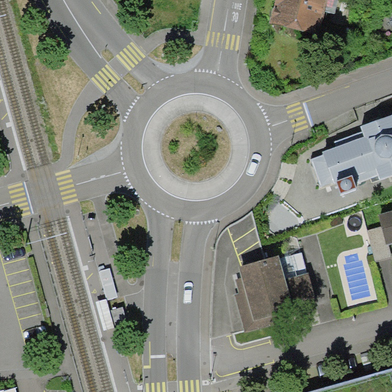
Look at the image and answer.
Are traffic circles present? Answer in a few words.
Yes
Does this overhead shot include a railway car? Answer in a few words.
No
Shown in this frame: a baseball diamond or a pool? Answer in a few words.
pool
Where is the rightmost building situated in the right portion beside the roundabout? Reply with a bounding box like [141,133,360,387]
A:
[311,116,392,197]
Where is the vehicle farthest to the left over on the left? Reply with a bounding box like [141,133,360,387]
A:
[4,248,26,260]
